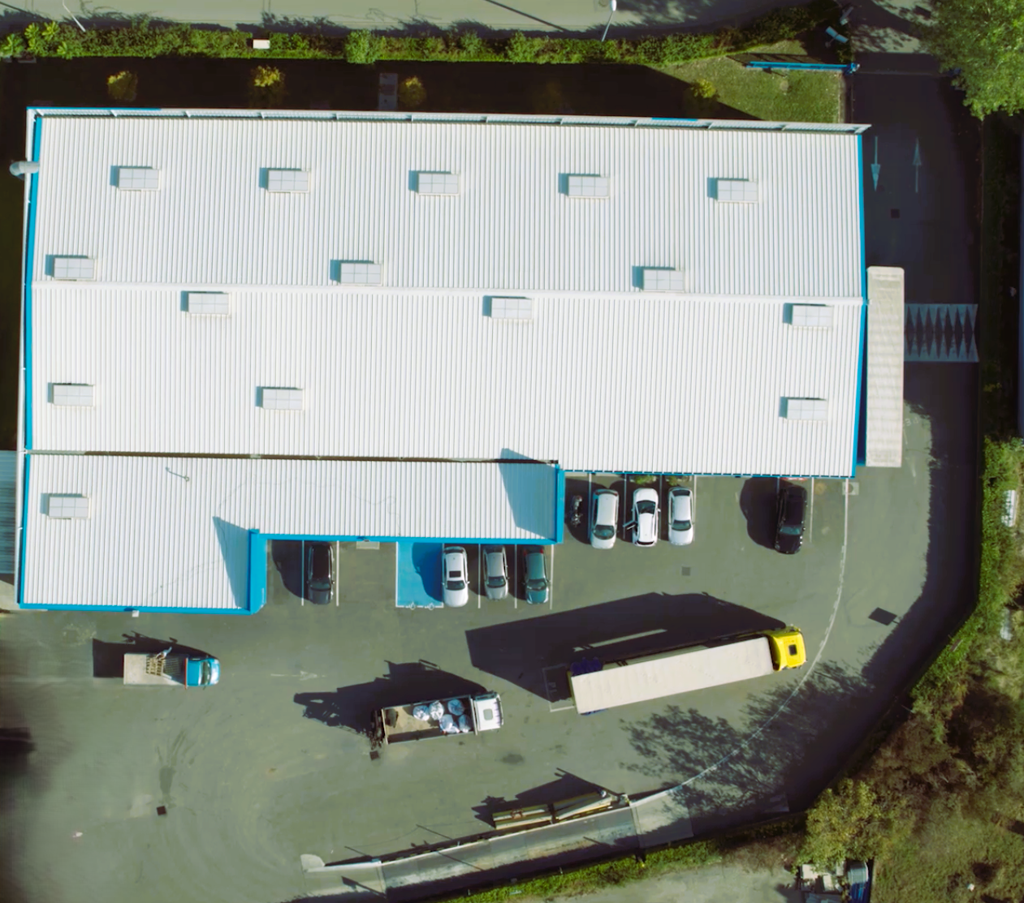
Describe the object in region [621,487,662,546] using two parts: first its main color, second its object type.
white car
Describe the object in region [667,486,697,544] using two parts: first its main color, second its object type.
white car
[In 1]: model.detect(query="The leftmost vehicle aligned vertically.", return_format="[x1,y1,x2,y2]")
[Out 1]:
[306,540,337,604]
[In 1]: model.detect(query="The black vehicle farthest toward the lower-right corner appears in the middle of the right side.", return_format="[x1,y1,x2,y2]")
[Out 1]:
[773,483,807,553]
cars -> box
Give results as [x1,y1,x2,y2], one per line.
[667,486,697,544]
[773,483,807,553]
[306,540,337,604]
[621,487,662,546]
[590,488,620,548]
[482,544,510,600]
[521,545,551,603]
[440,544,471,608]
